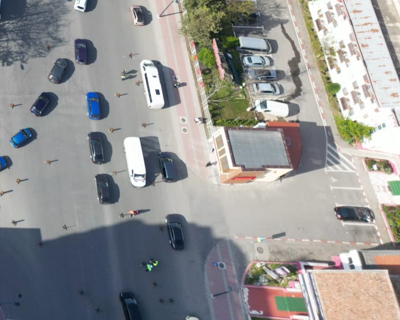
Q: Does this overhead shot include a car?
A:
Yes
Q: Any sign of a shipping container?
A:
No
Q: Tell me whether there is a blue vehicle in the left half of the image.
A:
Yes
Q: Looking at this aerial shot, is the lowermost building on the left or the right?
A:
right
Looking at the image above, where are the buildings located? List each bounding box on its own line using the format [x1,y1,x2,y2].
[308,0,400,157]
[207,122,301,183]
[285,269,400,320]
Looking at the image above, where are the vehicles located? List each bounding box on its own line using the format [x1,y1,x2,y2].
[157,151,177,183]
[0,156,9,170]
[334,206,375,224]
[116,290,139,320]
[164,216,184,249]
[93,173,111,205]
[127,133,150,186]
[48,57,68,84]
[253,98,292,118]
[87,133,104,163]
[247,67,277,82]
[241,54,272,67]
[129,3,146,28]
[251,82,282,95]
[74,0,87,13]
[29,90,51,118]
[75,38,89,65]
[86,94,101,119]
[140,62,170,106]
[9,126,34,149]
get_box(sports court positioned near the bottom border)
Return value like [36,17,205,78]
[249,288,296,320]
